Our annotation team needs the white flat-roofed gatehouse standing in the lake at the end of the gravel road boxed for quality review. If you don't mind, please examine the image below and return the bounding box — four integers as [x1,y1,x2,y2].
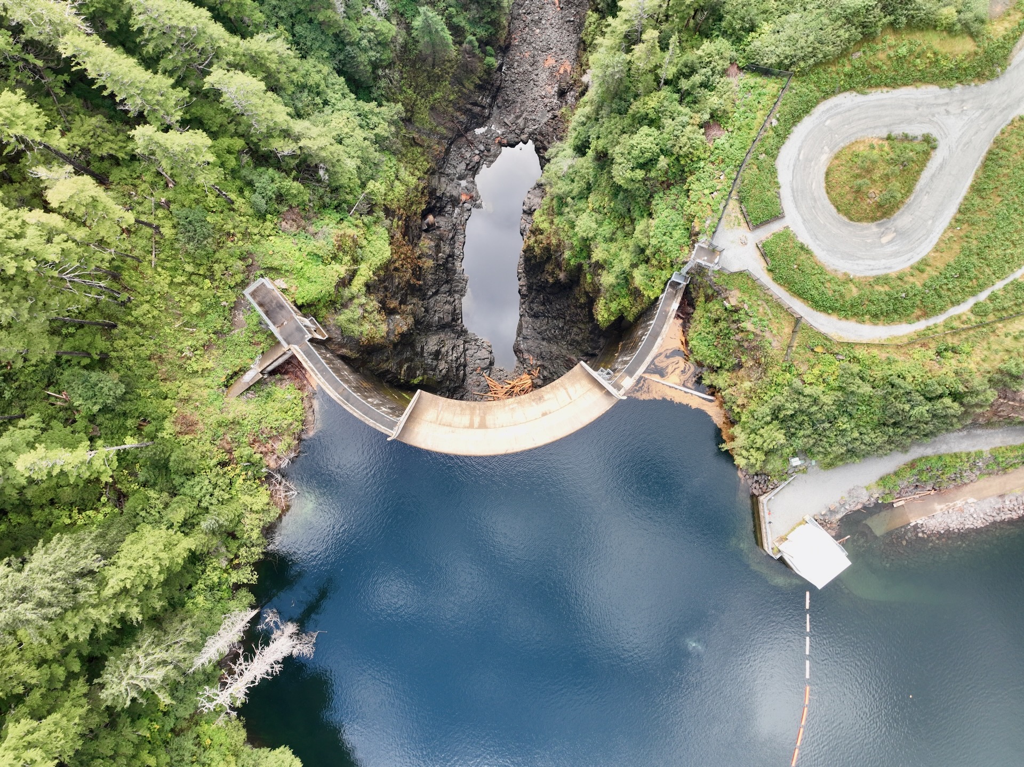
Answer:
[768,517,853,590]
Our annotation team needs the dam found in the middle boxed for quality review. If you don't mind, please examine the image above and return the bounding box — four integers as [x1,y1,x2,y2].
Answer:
[223,268,689,456]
